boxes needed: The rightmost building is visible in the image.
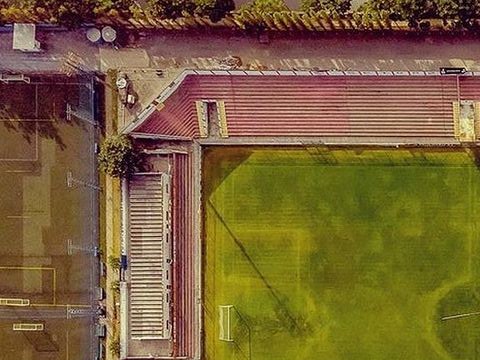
[126,172,173,343]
